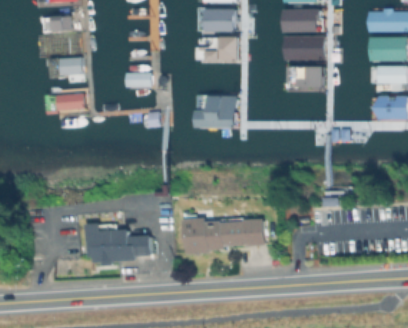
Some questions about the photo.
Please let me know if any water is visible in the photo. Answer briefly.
Yes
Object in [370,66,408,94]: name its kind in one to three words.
house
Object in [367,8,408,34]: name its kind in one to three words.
house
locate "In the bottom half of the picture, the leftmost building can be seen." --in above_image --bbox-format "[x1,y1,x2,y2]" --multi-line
[86,224,158,268]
